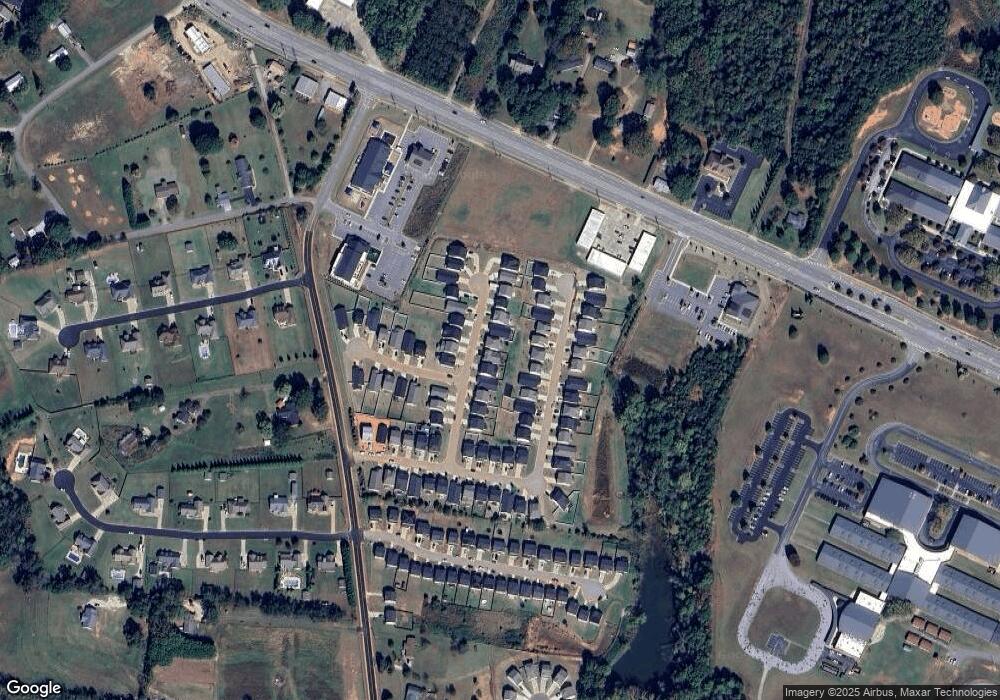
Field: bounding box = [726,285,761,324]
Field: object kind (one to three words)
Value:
building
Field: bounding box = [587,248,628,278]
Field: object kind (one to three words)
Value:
shed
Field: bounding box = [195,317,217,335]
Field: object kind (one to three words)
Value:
house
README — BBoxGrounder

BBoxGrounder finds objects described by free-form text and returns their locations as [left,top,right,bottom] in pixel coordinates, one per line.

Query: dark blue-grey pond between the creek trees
[607,544,676,684]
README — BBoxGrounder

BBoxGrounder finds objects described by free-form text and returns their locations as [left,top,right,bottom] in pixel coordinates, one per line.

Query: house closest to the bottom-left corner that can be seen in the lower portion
[79,604,100,630]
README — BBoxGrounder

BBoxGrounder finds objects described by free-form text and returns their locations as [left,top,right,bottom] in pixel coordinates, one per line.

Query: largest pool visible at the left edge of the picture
[15,451,28,471]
